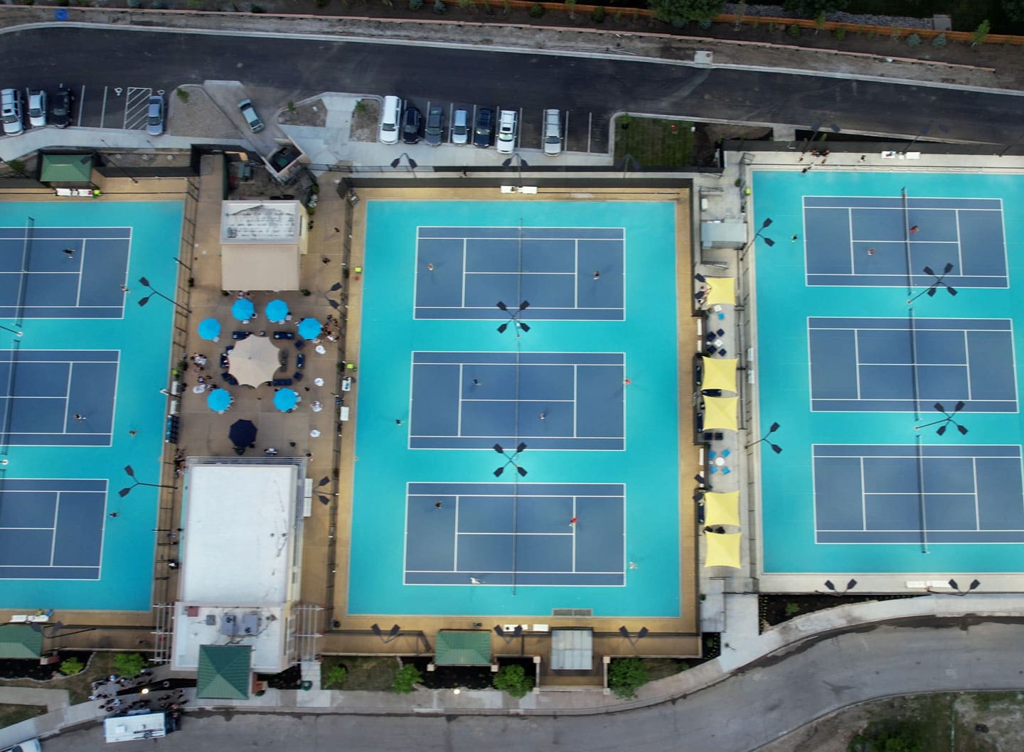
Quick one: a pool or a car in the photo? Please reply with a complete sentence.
Looking from above, you can make out a car.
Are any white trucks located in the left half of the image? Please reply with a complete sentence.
Yes, you'll find a white truck in the left half of the image.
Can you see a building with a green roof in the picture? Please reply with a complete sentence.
Yes, I can see a building with a green roof in this picture.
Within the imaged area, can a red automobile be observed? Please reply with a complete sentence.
No, there is no red automobile in the image.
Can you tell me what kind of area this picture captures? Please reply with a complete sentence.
This looks like a sports ground.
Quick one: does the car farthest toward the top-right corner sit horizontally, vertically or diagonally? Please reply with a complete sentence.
What the image shows is the car farthest toward the top-right corner lying vertically.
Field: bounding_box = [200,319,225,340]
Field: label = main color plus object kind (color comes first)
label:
blue umbrella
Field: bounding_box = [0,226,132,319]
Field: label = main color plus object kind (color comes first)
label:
blue tennis court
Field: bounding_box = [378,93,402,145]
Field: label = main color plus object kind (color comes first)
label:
white car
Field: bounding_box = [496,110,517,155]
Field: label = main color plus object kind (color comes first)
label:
white car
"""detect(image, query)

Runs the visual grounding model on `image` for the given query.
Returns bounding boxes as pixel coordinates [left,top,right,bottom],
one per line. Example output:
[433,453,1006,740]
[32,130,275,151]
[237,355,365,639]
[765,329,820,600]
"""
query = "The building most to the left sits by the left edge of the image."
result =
[0,623,59,659]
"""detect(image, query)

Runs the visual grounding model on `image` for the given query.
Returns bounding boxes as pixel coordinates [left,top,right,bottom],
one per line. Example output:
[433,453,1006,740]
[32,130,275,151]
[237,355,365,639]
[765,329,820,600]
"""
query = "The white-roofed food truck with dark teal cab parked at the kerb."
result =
[106,706,190,742]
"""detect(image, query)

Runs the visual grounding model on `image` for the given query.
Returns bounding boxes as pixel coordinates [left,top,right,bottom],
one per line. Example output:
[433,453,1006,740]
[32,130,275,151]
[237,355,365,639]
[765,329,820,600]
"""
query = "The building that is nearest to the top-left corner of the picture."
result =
[40,154,107,193]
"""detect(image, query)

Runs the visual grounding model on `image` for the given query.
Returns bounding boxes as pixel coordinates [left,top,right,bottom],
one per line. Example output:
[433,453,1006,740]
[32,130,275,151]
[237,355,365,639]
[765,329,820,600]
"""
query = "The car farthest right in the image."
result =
[542,109,563,156]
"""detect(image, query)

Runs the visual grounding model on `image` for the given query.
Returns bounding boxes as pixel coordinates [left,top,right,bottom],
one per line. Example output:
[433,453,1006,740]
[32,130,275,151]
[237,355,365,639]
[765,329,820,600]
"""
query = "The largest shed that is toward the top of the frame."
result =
[221,200,312,298]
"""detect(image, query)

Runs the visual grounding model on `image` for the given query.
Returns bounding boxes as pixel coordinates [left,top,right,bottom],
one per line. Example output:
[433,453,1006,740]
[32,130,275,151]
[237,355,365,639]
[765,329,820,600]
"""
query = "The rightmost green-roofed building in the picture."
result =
[435,630,493,665]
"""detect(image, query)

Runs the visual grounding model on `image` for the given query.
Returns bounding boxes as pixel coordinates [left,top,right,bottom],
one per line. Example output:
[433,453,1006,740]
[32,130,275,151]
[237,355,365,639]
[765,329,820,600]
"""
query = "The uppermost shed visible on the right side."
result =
[699,218,747,252]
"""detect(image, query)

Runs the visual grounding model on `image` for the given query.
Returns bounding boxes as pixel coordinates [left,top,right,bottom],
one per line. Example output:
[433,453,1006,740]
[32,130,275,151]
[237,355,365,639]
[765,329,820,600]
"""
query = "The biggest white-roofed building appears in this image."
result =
[144,457,324,699]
